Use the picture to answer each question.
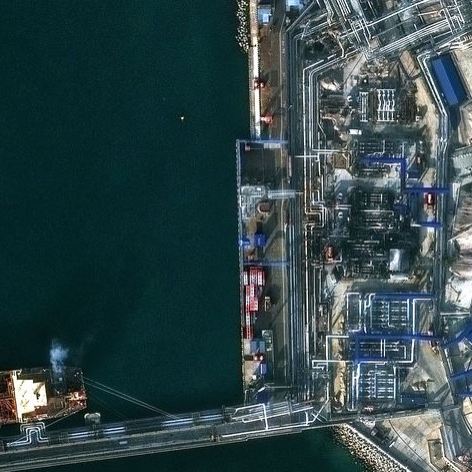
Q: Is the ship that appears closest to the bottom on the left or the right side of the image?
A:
left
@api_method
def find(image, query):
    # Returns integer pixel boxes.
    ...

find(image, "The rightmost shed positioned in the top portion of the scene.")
[431,53,470,113]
